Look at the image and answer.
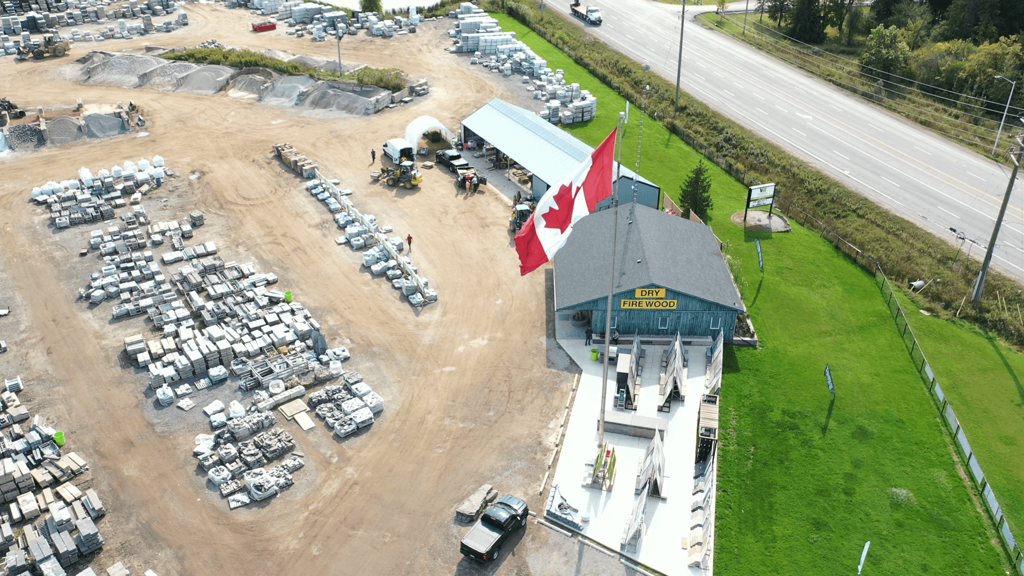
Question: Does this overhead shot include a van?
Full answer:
Yes, there's a van here.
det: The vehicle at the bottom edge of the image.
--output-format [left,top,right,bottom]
[461,497,532,565]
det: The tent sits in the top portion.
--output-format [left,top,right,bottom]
[401,113,452,153]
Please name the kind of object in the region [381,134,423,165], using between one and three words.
van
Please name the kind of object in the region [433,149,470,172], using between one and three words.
truck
